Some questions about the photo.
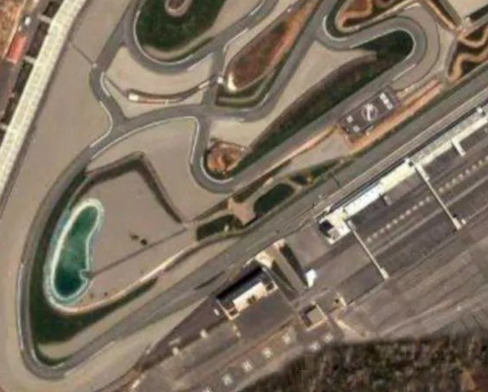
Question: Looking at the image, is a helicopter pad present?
Yes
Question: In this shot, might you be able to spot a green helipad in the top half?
No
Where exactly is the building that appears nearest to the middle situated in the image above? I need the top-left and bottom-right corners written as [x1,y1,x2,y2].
[246,238,286,268]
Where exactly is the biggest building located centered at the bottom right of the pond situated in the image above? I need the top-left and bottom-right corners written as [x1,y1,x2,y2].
[216,265,277,319]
